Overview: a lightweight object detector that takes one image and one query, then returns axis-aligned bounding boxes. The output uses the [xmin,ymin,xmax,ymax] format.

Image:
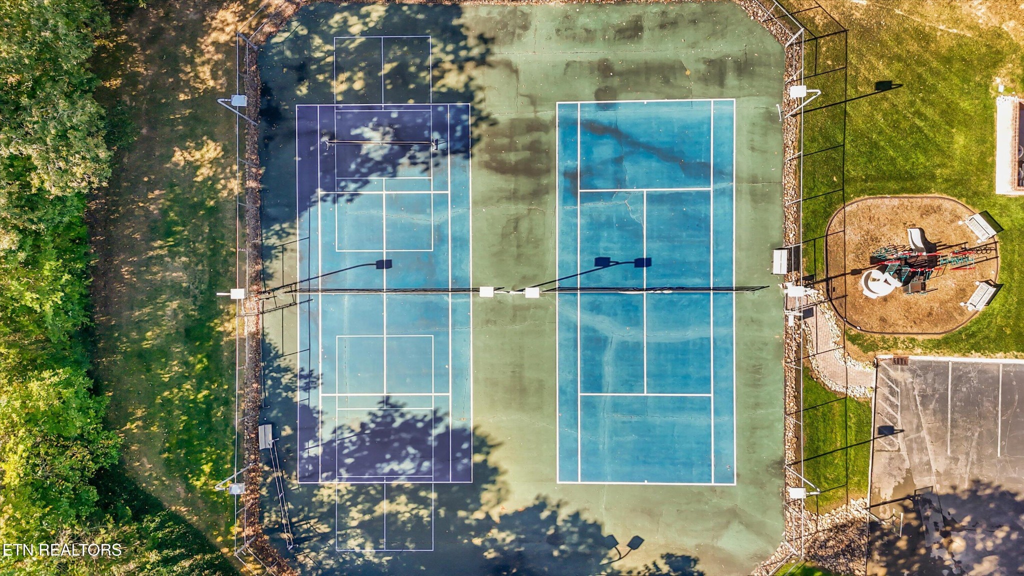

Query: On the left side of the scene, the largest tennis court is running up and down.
[297,103,473,483]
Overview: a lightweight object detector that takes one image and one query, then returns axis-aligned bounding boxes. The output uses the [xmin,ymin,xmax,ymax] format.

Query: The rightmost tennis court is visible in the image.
[556,99,737,486]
